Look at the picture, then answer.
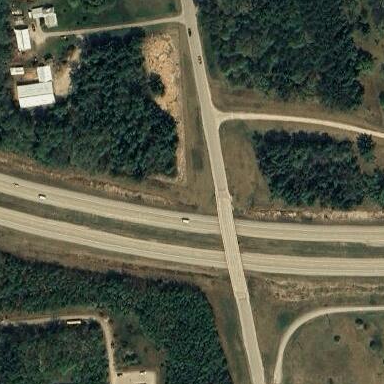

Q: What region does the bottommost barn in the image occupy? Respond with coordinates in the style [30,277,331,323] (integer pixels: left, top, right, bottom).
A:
[17,81,56,108]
